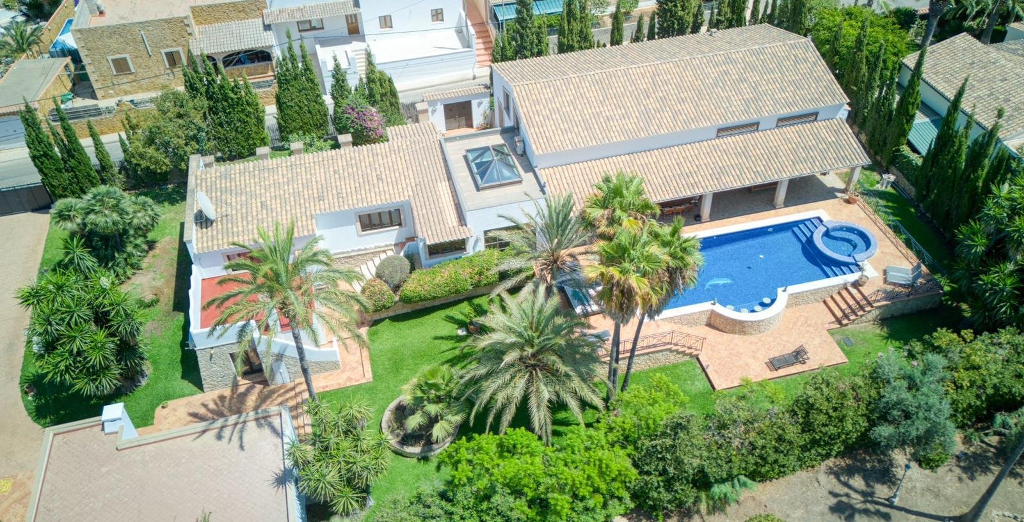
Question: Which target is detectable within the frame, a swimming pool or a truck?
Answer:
swimming pool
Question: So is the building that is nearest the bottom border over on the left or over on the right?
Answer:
left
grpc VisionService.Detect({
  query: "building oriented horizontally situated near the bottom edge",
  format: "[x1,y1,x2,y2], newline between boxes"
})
[27,407,297,522]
